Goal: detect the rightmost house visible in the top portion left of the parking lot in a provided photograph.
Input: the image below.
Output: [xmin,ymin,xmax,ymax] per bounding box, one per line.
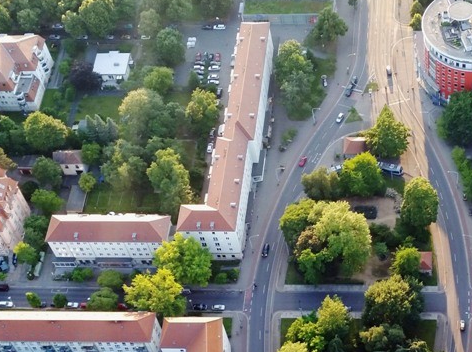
[95,53,131,83]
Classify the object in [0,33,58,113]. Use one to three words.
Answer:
house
